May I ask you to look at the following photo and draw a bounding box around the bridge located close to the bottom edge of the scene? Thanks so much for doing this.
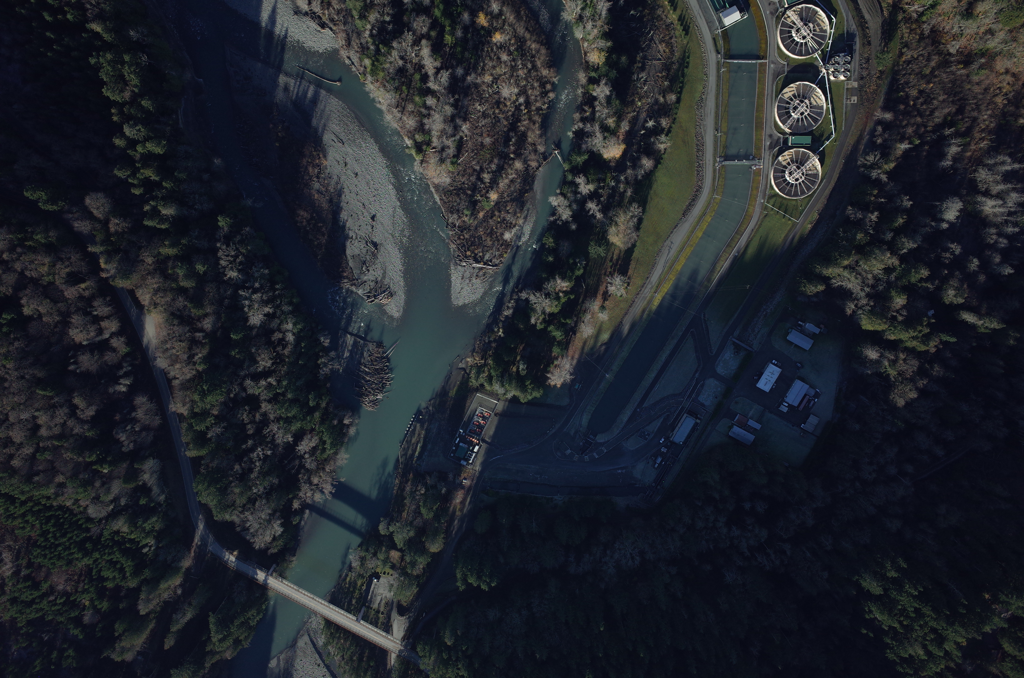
[219,544,412,660]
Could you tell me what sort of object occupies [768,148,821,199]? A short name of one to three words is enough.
storage tank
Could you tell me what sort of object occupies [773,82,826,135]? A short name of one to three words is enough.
storage tank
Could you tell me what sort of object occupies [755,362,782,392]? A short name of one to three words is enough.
building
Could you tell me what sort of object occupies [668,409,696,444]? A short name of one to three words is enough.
building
